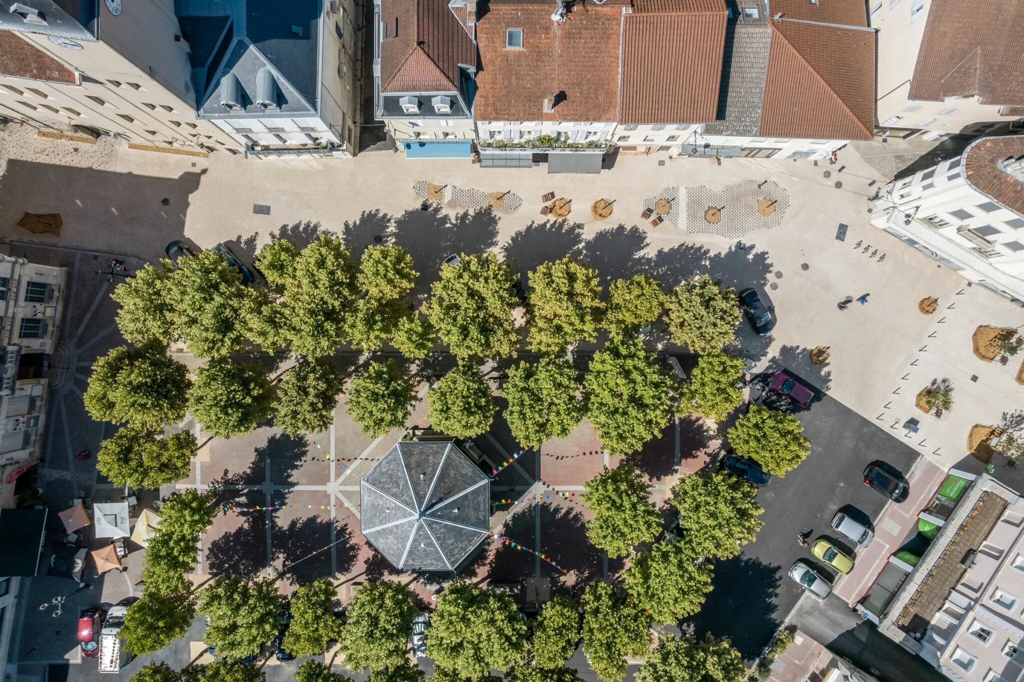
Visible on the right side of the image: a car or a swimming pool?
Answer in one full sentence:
The feature located on the right side of the image is a car.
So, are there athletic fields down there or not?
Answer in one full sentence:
No, the scene contains no athletic field.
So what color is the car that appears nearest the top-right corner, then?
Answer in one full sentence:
The car that appears nearest the top-right corner looks black in the image.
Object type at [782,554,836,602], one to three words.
car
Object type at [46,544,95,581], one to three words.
umbrella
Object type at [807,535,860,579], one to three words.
car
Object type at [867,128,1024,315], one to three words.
building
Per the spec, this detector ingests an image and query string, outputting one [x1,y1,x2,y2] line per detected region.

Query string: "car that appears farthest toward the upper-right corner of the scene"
[738,282,778,340]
